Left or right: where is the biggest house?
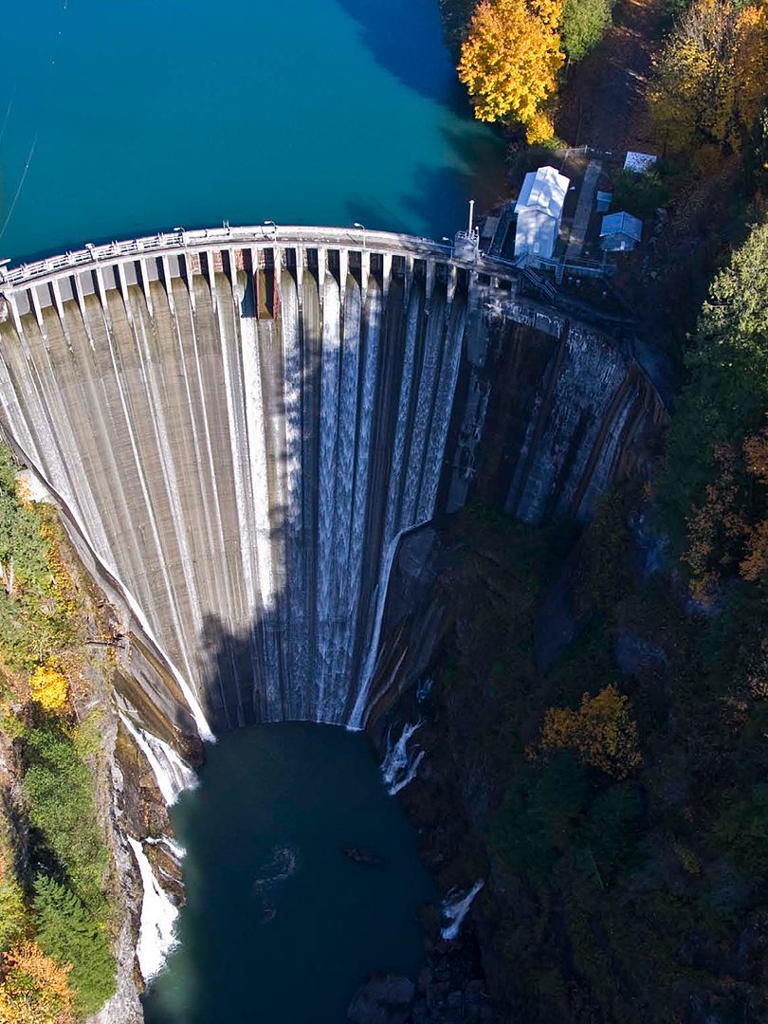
right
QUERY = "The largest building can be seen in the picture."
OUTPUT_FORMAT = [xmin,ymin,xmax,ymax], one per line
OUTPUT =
[513,158,571,262]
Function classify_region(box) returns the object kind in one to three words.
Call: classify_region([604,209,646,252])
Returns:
shed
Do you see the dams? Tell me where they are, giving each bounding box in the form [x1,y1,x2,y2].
[0,216,692,737]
